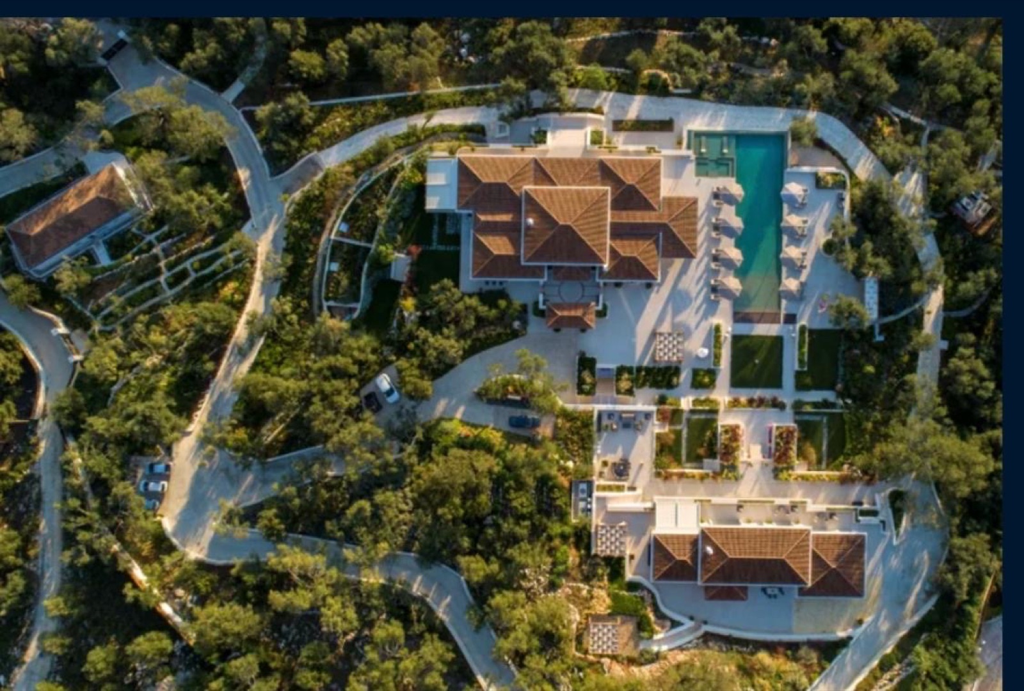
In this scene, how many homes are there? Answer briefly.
3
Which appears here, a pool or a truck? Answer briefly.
pool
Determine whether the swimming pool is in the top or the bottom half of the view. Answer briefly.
top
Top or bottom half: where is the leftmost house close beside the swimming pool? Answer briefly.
top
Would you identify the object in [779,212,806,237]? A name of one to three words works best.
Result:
umbrella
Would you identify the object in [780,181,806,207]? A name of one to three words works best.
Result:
umbrella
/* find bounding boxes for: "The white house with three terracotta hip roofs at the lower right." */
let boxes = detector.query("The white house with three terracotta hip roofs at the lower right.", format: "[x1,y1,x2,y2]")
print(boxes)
[652,498,866,601]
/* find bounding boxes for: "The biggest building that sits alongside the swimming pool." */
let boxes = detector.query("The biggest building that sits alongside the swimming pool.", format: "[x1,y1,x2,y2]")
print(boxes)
[426,155,698,310]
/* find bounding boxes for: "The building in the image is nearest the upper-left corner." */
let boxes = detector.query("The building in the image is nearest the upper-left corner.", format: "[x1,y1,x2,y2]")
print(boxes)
[5,159,168,287]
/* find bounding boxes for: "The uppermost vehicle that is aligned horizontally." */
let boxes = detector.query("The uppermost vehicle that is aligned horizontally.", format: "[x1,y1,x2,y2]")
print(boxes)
[509,415,540,429]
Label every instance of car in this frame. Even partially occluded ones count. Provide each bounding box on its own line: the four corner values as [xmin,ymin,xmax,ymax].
[509,415,540,429]
[361,389,379,412]
[143,481,168,492]
[147,462,174,475]
[374,372,400,402]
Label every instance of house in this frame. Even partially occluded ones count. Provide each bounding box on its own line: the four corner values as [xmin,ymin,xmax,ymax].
[5,159,168,287]
[426,155,698,310]
[652,498,866,601]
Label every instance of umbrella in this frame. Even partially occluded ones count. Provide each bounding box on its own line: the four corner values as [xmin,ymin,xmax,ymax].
[780,181,806,207]
[714,275,740,301]
[715,244,740,270]
[715,212,741,238]
[715,180,741,206]
[779,244,805,270]
[697,346,709,358]
[779,212,806,237]
[779,275,805,301]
